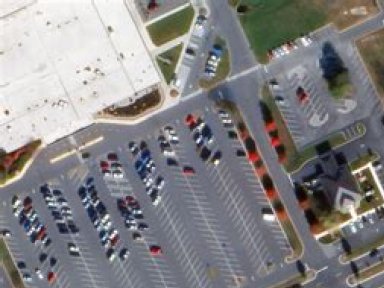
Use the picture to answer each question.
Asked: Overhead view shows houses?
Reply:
Yes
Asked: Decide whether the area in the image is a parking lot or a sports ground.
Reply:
parking lot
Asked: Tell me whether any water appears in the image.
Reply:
No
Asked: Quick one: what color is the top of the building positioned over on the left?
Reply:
white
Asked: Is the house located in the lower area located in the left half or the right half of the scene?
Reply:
right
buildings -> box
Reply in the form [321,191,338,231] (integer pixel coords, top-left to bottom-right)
[316,150,361,213]
[0,0,160,155]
